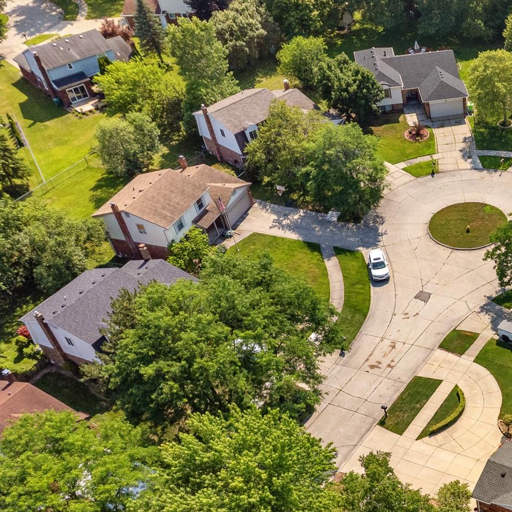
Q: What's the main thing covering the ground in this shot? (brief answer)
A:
trees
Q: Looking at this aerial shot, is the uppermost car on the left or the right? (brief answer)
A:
right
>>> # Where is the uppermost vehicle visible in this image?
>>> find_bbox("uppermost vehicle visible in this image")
[366,251,388,281]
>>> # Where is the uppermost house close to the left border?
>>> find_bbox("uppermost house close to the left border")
[5,30,149,104]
